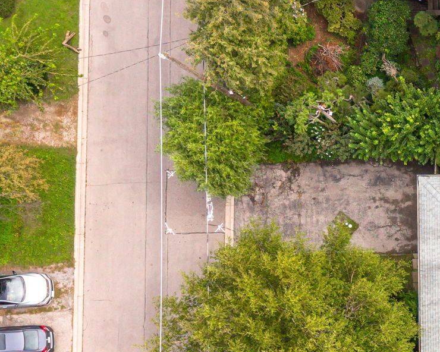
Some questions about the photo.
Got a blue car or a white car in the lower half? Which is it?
white car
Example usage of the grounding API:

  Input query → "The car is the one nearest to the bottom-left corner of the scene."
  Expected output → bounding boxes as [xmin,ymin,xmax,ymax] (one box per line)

[0,323,55,352]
